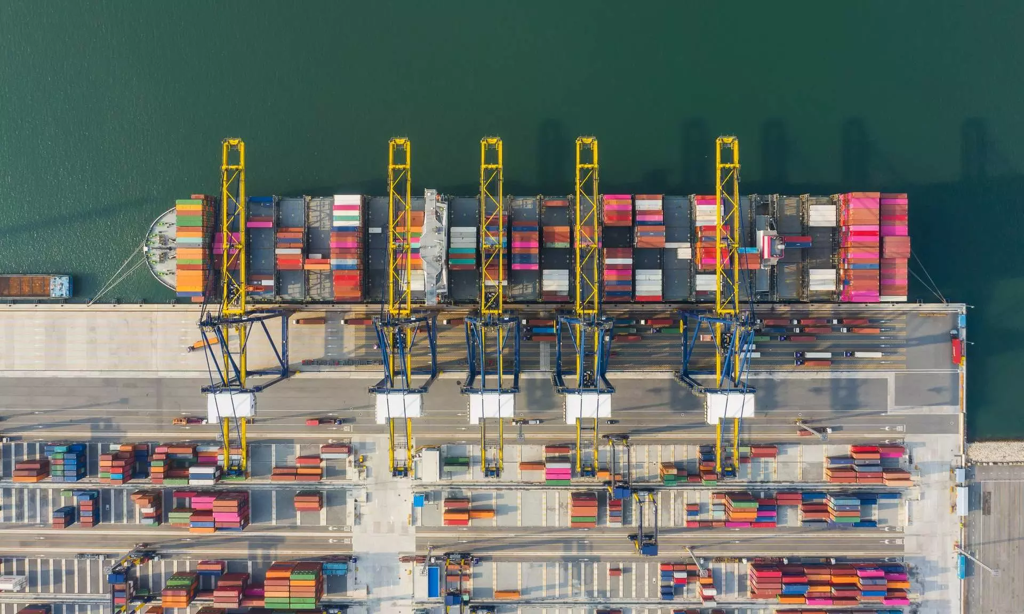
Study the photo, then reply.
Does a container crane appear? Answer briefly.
Yes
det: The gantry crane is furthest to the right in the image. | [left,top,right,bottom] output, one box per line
[660,135,766,474]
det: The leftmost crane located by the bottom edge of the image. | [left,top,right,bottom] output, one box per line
[109,554,151,614]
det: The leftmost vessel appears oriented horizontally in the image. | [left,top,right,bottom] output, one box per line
[0,275,76,297]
